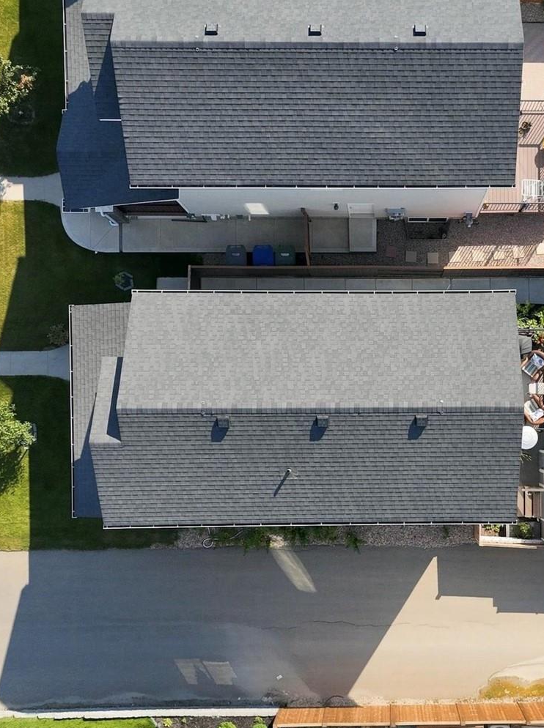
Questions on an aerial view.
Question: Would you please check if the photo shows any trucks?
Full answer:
No, I can see no truck in this picture.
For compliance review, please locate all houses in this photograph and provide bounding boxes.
[57,0,523,252]
[64,286,525,532]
